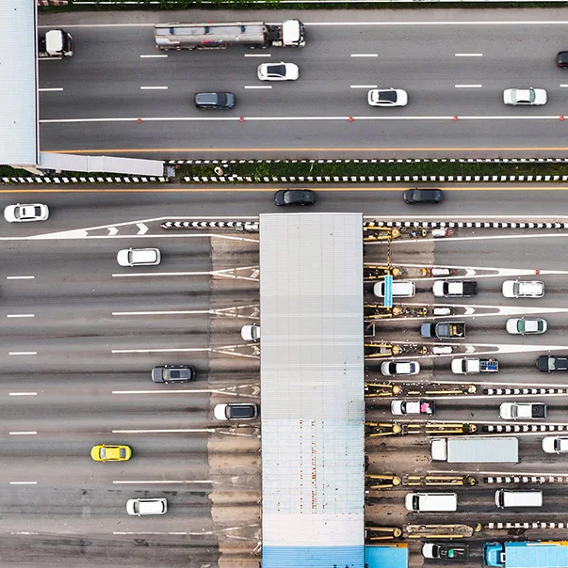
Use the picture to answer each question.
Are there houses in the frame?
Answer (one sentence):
No, the scene contains no house.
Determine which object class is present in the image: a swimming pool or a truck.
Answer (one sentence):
Of the two, only a truck appears.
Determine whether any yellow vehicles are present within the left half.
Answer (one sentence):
Yes, a yellow vehicle appears within the left half.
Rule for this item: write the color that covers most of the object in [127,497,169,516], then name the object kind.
white car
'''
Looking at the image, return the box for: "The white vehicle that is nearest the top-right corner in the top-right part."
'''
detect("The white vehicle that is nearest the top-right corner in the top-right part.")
[502,86,547,107]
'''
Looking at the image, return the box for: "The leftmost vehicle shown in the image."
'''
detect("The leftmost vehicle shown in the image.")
[4,203,52,222]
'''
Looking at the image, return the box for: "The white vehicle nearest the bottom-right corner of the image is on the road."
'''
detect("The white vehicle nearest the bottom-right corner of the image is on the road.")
[494,487,543,507]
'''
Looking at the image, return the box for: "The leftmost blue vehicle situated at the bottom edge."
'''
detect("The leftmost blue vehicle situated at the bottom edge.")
[364,543,408,568]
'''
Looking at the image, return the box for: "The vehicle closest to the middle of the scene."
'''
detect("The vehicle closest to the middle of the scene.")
[242,323,260,342]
